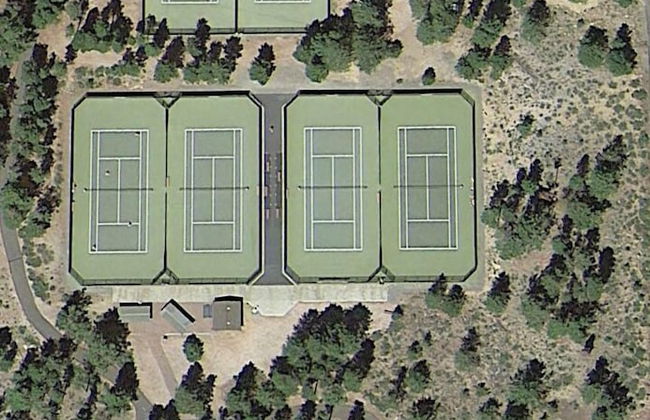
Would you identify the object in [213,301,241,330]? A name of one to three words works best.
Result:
building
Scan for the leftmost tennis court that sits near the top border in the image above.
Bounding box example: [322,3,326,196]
[143,0,235,34]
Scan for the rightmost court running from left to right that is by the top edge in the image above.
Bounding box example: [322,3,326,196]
[235,0,328,34]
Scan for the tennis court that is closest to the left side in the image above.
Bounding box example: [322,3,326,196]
[70,96,165,285]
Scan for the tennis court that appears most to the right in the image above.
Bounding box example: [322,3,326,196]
[378,93,475,282]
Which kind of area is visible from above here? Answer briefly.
sports ground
